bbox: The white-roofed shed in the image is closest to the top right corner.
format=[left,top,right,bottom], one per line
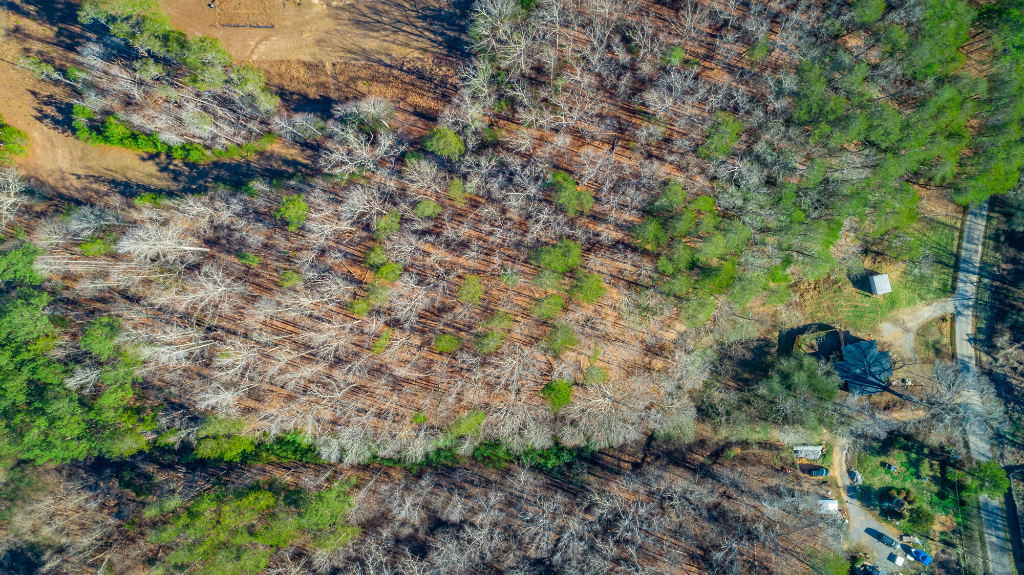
[868,274,891,295]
